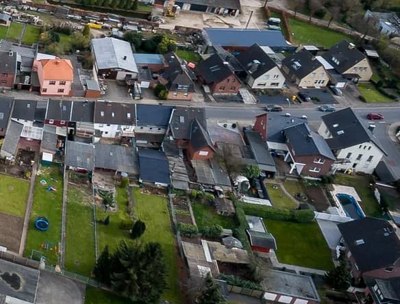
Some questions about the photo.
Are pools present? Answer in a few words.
Yes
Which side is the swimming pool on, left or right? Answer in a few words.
right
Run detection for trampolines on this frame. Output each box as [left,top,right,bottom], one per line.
[33,215,51,230]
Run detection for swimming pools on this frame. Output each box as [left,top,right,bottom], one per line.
[335,189,368,222]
